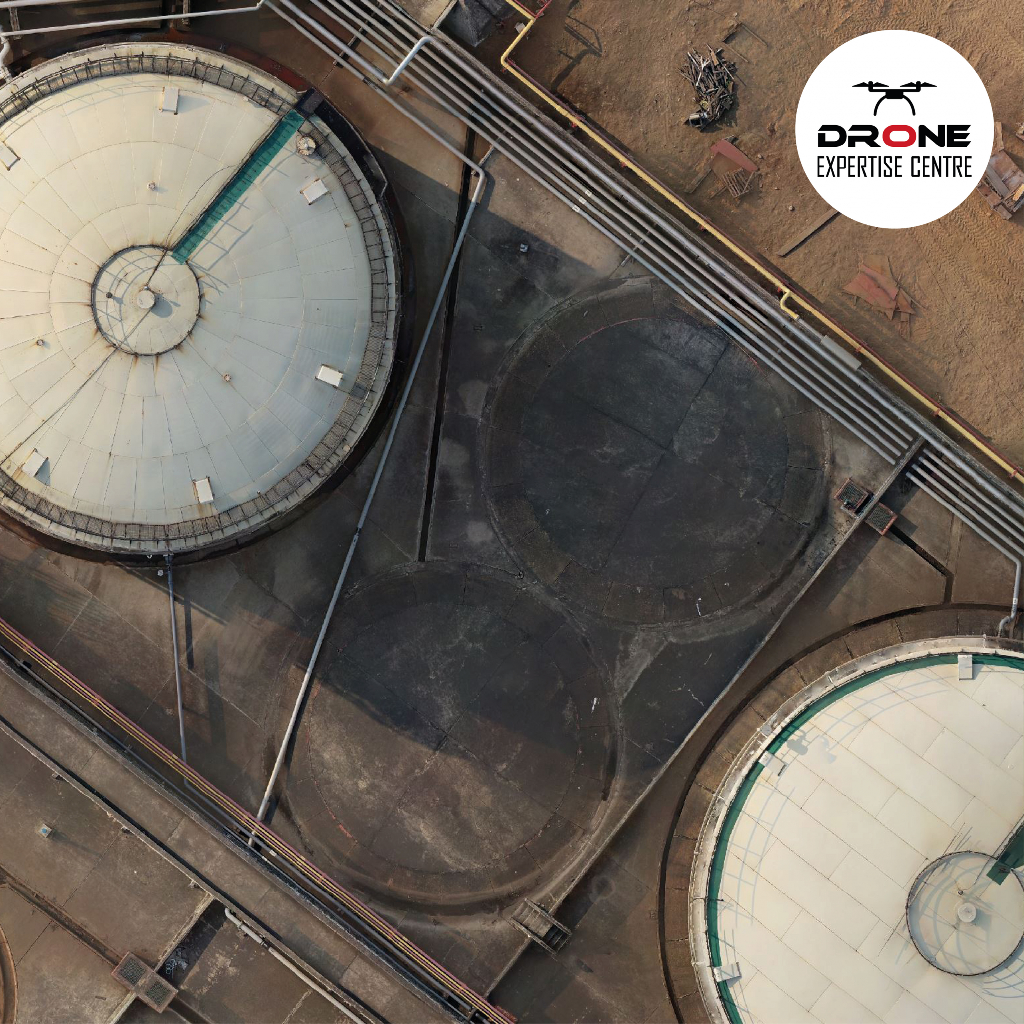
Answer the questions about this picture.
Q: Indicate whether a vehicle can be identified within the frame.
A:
No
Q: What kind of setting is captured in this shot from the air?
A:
industrial area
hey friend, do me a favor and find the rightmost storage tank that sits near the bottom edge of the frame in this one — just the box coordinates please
[688,634,1024,1024]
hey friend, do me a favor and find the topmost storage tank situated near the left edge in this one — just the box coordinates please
[0,42,400,559]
